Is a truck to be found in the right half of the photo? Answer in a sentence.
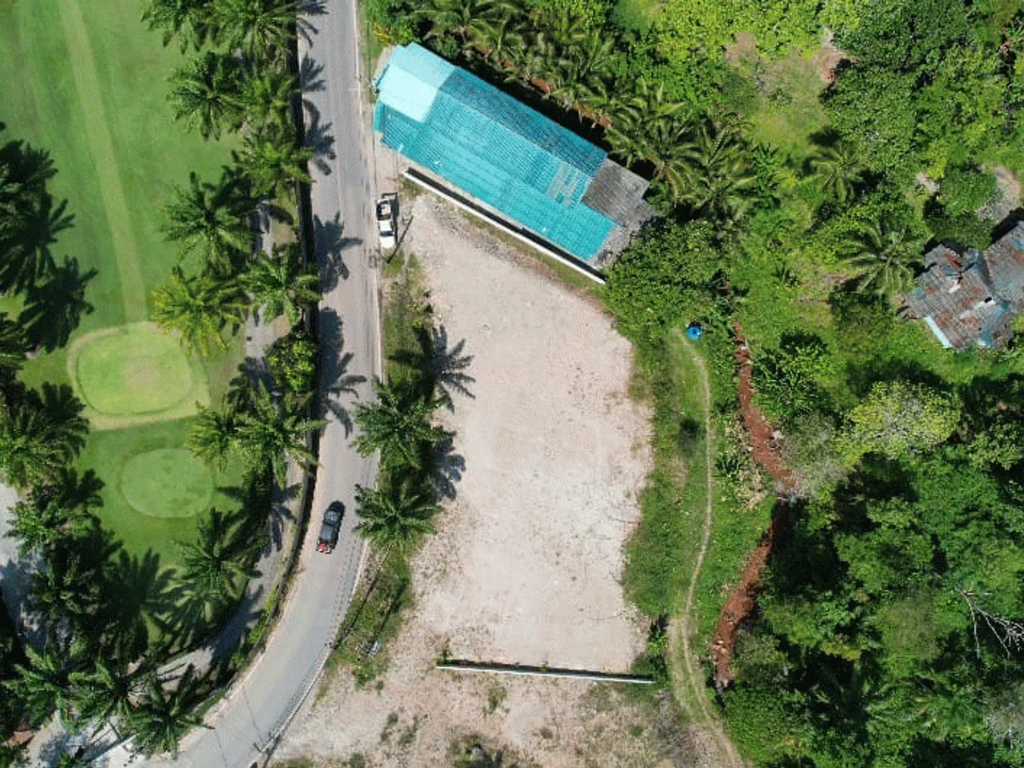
No, looking in the right half of the photo, there is no truck.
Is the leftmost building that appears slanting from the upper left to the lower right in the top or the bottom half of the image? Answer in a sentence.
The leftmost building that appears slanting from the upper left to the lower right is in the top half of the image.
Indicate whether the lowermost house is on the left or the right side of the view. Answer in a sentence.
You can find the lowermost house on the right side of the picture.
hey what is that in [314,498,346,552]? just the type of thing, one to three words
truck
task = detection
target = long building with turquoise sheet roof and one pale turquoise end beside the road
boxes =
[375,38,610,263]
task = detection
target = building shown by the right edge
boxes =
[898,218,1024,351]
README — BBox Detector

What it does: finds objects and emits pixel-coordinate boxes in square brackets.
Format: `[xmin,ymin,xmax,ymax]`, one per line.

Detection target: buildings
[898,218,1024,351]
[375,38,610,263]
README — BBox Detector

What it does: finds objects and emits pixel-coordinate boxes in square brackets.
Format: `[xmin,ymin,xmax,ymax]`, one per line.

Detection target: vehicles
[314,498,346,552]
[376,198,397,251]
